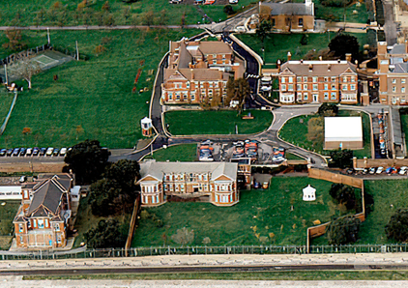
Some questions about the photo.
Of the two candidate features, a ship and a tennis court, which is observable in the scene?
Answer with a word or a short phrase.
tennis court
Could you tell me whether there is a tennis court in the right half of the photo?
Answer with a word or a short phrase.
No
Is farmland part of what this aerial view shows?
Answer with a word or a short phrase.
No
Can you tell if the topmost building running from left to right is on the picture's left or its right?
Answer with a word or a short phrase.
right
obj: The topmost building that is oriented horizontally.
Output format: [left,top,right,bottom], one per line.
[249,0,330,31]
